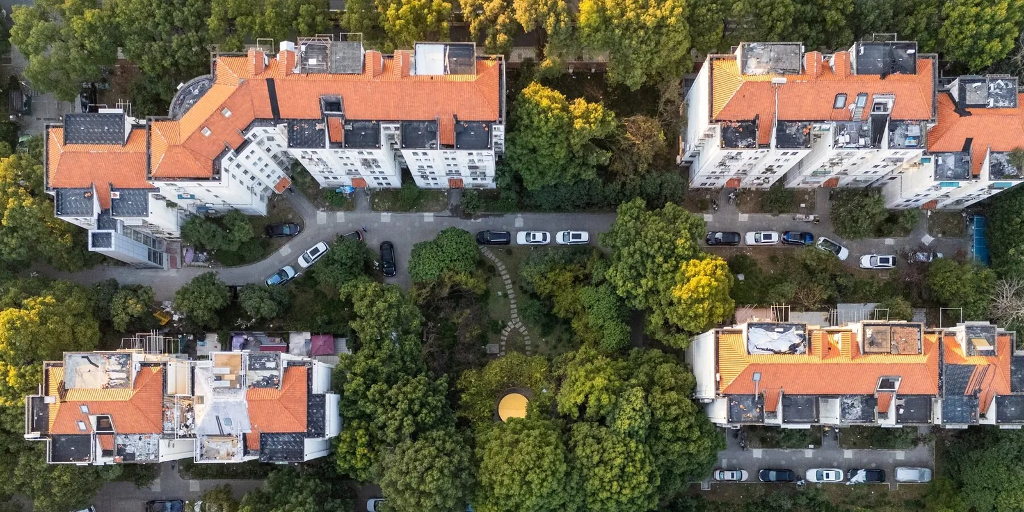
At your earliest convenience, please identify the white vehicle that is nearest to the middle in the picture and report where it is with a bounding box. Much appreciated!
[518,230,550,246]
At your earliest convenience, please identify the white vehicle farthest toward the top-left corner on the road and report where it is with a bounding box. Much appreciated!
[298,241,327,267]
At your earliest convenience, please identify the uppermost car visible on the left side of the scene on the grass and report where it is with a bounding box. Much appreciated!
[266,221,298,237]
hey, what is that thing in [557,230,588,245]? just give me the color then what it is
white car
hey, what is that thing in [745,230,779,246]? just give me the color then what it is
white car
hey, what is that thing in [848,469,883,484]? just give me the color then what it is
black car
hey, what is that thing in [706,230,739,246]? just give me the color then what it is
black car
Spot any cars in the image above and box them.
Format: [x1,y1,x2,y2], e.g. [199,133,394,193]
[380,241,396,276]
[781,230,812,246]
[815,236,846,260]
[557,230,588,245]
[848,469,883,484]
[298,241,327,267]
[807,468,842,484]
[706,230,739,246]
[479,230,510,246]
[148,499,183,512]
[267,265,295,286]
[715,468,746,483]
[82,83,99,113]
[518,230,550,246]
[335,232,367,245]
[745,230,779,246]
[759,468,793,483]
[364,500,395,512]
[859,253,895,269]
[266,221,298,237]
